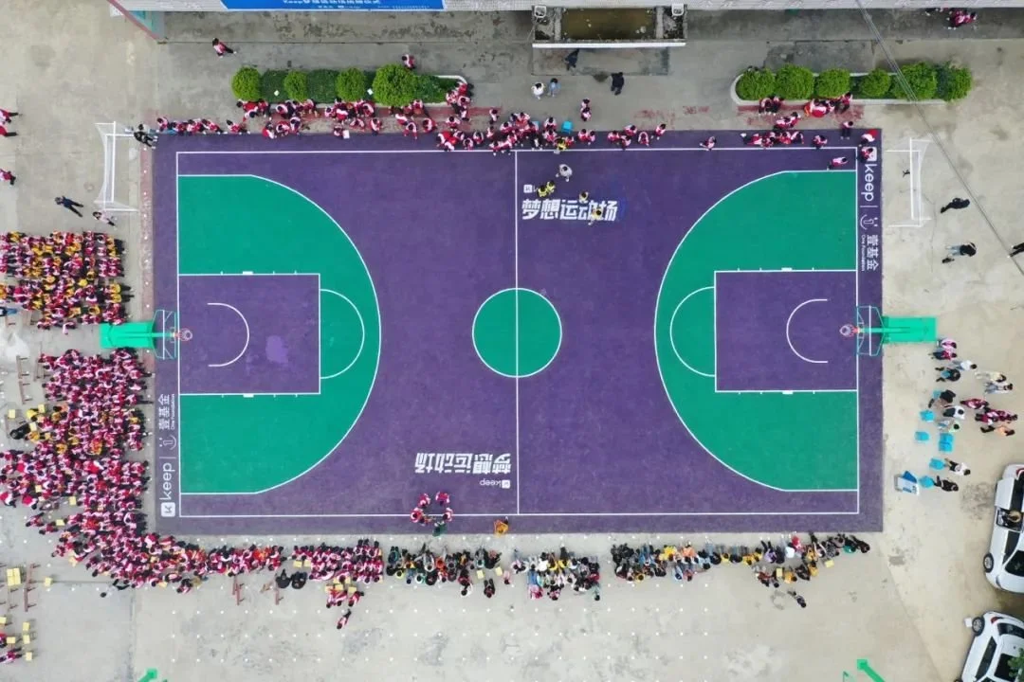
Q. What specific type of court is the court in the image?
basketball court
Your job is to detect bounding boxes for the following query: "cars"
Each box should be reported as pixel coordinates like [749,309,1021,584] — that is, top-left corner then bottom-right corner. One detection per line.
[982,463,1024,596]
[955,607,1024,682]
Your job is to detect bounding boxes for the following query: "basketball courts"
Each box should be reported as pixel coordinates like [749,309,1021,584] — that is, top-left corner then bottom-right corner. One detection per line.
[152,129,884,535]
